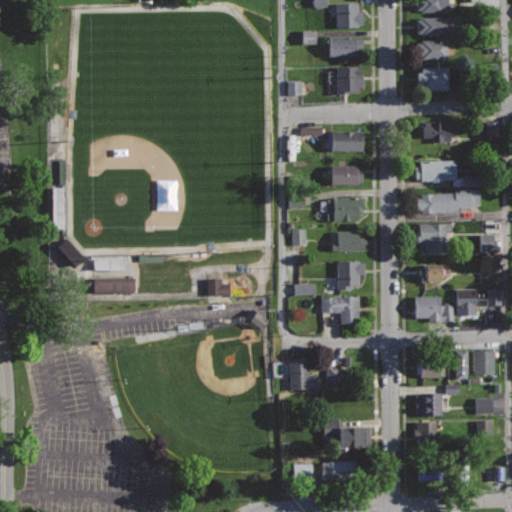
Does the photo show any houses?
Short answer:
Yes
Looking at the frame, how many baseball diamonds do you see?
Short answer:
two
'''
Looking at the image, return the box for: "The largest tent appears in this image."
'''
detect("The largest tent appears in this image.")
[157,180,179,212]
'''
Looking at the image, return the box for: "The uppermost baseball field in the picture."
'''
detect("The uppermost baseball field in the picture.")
[72,13,265,248]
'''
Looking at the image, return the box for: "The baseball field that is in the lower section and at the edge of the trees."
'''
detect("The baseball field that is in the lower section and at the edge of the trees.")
[116,328,271,472]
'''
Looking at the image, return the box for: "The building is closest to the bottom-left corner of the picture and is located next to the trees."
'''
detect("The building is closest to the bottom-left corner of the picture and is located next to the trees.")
[94,279,135,294]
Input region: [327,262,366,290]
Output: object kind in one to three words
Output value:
house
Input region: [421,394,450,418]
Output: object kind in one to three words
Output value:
house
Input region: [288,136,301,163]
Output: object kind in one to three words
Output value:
building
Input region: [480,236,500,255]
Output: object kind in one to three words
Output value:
building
